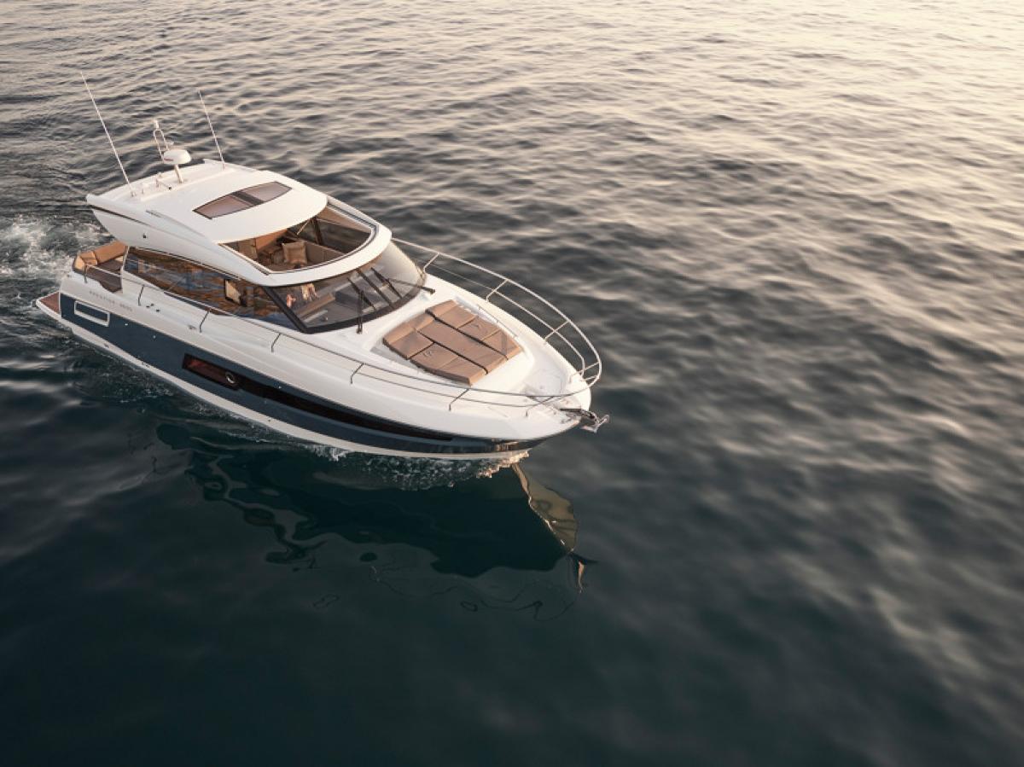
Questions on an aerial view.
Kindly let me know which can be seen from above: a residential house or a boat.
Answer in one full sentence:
Visible in the photo is a boat.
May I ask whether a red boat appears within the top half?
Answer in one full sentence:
No, there is no red boat within the top half.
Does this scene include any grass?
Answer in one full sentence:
No, there is no grass in the image.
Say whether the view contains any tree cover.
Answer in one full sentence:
No, the scene doesn't show any tree cover.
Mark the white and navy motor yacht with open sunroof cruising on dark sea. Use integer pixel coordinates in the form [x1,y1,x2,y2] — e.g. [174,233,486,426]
[43,72,604,460]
